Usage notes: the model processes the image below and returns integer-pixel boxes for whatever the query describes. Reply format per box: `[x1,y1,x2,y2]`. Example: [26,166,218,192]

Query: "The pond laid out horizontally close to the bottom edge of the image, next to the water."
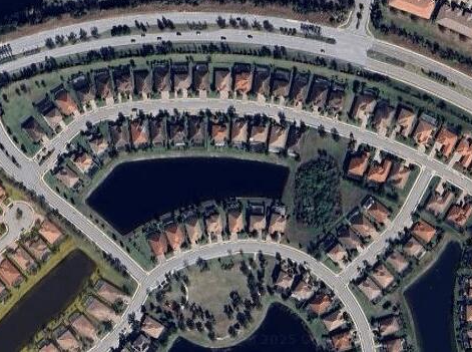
[167,301,318,352]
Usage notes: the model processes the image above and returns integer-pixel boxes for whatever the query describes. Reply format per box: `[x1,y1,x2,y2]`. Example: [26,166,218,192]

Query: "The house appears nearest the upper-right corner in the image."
[435,0,472,37]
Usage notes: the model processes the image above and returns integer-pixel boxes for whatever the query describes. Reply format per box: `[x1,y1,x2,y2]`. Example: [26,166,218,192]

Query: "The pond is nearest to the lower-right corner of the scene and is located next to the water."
[404,242,461,352]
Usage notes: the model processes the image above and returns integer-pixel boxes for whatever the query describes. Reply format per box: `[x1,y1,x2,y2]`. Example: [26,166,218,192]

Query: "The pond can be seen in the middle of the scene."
[87,156,291,236]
